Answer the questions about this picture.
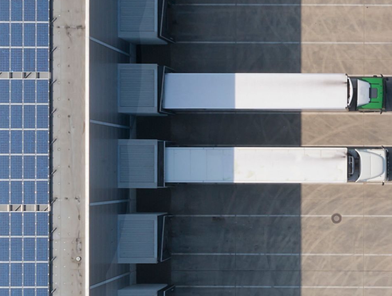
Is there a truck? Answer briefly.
Yes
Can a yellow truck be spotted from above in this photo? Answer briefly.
No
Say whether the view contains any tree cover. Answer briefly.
No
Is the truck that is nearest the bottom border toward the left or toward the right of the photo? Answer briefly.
right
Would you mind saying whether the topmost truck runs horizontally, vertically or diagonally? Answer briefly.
horizontally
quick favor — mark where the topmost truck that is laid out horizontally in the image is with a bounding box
[165,70,391,114]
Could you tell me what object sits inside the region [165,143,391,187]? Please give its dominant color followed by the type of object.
white truck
